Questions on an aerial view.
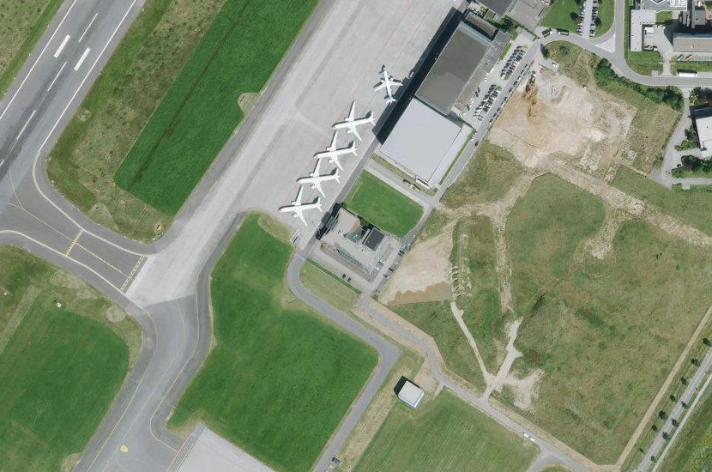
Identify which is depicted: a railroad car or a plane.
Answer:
plane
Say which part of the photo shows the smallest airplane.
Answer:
top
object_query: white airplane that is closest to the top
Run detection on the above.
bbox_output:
[374,68,403,102]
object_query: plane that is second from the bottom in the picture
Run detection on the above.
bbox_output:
[297,158,340,197]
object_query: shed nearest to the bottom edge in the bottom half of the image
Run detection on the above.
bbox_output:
[398,380,425,408]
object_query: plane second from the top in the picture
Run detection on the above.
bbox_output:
[333,102,376,142]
